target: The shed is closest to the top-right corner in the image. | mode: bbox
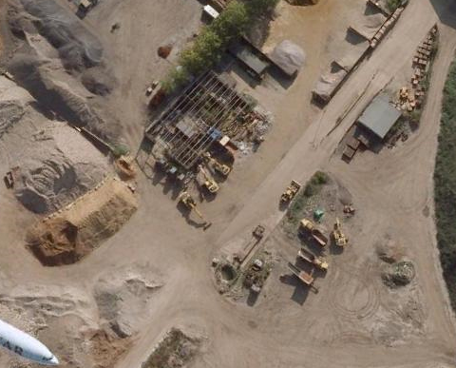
[360,96,400,137]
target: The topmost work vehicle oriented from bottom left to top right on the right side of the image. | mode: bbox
[283,177,302,202]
